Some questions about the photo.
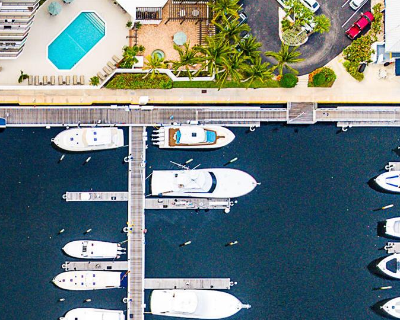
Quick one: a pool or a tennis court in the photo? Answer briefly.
pool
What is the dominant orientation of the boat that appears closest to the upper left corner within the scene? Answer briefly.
from left to right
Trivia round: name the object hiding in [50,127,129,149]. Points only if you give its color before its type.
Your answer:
white boat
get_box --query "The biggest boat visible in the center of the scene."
[145,154,262,206]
